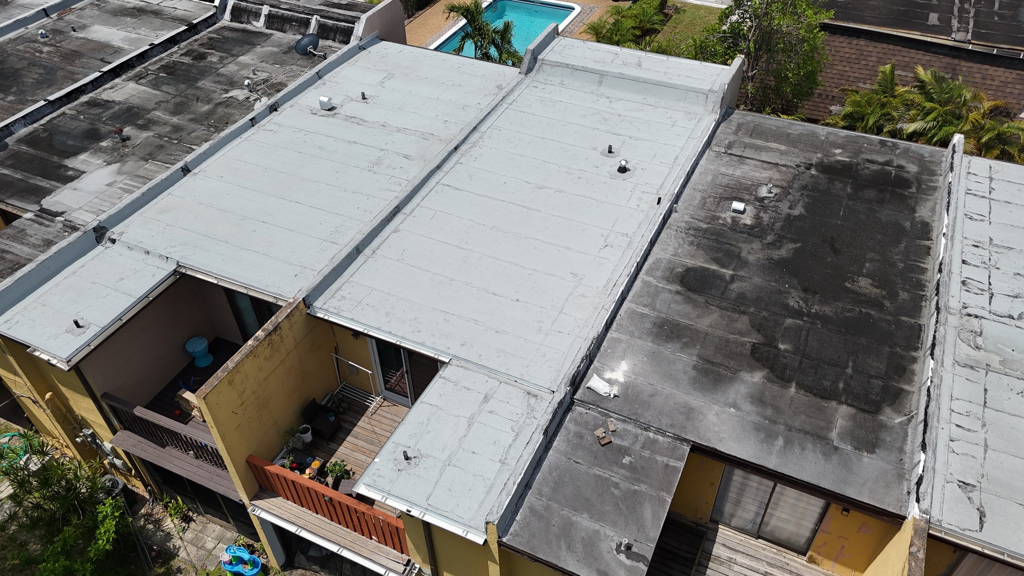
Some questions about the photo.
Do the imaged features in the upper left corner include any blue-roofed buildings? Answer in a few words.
No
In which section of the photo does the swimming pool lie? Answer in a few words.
top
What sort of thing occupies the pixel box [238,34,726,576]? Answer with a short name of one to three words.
house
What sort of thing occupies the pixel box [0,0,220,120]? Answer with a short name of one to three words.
house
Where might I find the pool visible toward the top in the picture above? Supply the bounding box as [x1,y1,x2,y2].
[430,0,581,65]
